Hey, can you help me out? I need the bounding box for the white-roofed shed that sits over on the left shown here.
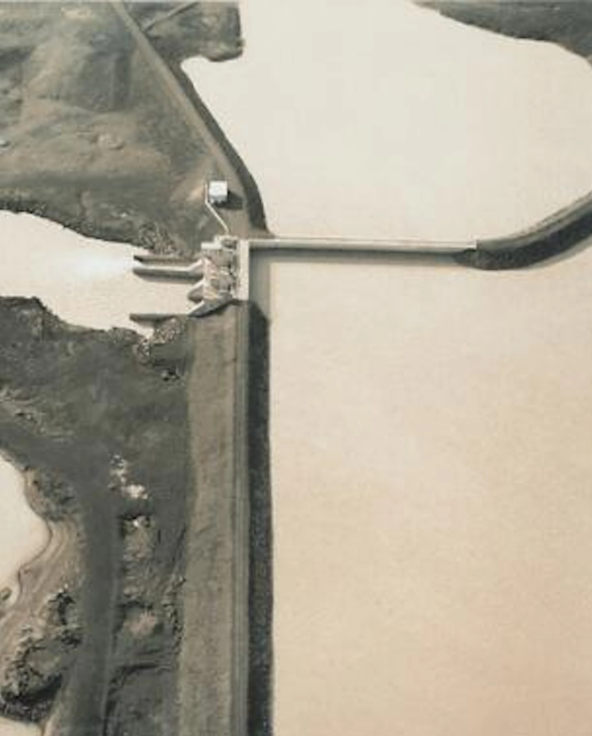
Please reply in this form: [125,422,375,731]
[207,186,229,207]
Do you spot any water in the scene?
Yes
